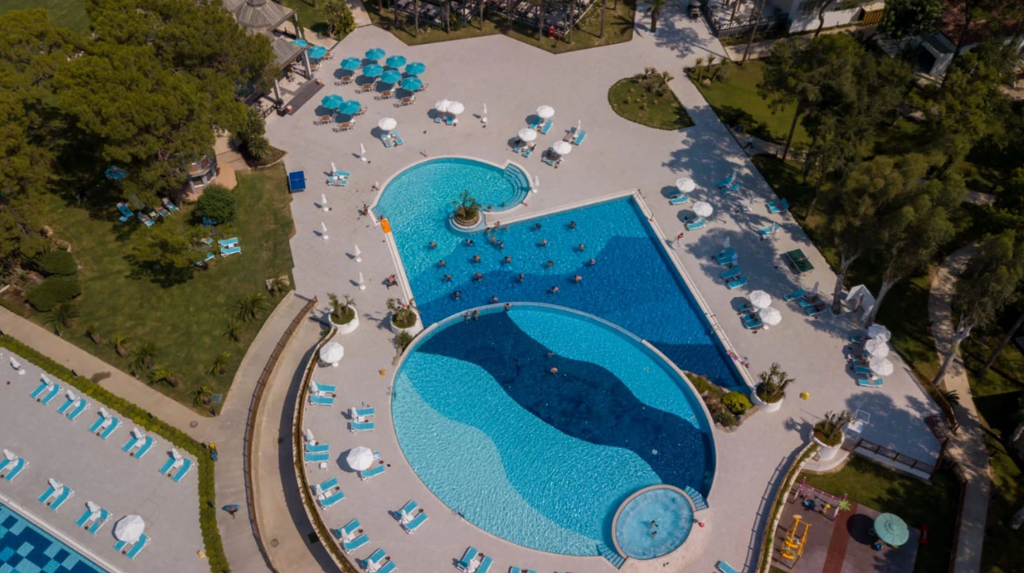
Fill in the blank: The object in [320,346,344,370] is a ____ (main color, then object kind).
white umbrella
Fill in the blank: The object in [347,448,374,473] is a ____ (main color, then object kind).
white umbrella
